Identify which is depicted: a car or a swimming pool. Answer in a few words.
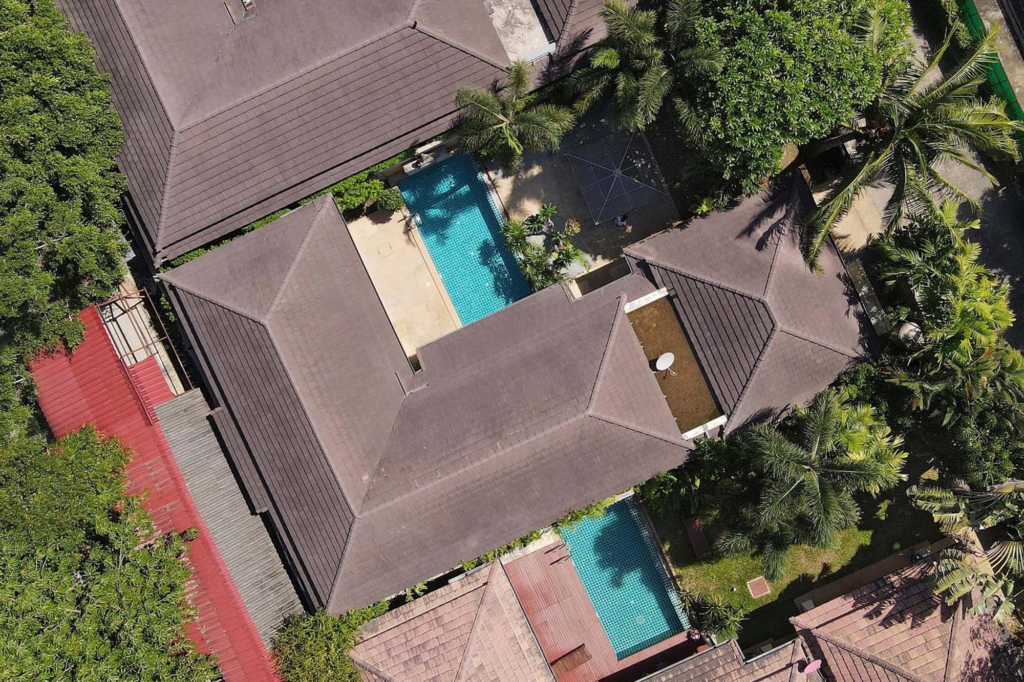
swimming pool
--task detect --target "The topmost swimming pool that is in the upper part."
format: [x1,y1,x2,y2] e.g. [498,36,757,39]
[395,150,543,330]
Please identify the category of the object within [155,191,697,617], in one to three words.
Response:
house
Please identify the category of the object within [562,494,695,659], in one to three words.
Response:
swimming pool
